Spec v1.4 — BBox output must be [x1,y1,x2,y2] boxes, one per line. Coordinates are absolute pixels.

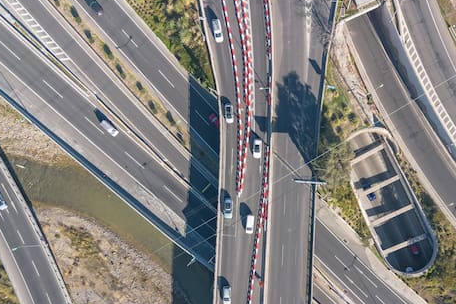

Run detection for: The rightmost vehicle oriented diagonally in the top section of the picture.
[205,110,219,130]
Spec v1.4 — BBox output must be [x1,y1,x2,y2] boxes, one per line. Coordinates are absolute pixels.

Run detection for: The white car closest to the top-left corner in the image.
[100,120,119,138]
